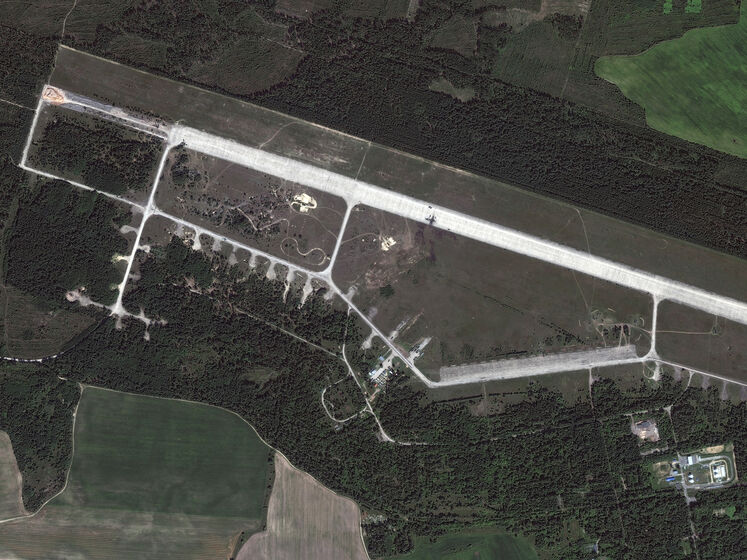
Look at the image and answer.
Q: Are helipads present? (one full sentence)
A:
No, the scene contains no helipad.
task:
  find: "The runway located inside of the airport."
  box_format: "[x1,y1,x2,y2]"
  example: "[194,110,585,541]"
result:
[171,125,747,324]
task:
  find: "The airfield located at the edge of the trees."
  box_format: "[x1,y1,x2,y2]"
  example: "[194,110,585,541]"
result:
[20,91,747,400]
